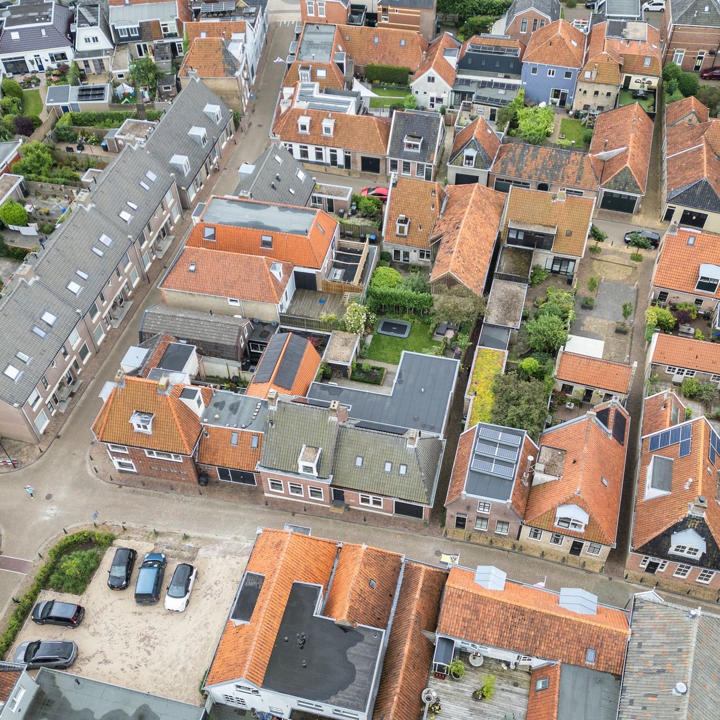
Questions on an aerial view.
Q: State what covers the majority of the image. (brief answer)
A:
buildings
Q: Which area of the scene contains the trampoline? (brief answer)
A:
center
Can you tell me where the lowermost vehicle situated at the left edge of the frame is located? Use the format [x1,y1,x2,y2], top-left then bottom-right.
[12,641,75,670]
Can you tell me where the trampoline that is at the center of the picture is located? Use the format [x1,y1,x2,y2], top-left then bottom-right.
[377,319,411,340]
